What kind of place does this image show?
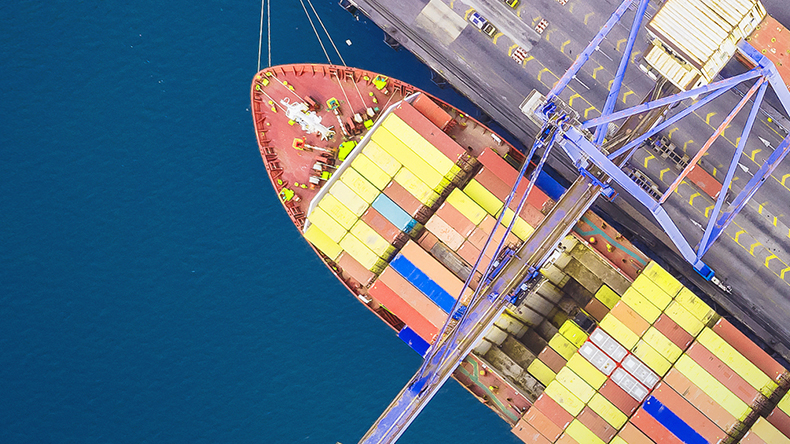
port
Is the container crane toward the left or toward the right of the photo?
right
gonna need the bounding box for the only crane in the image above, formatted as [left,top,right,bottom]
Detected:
[355,0,790,444]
